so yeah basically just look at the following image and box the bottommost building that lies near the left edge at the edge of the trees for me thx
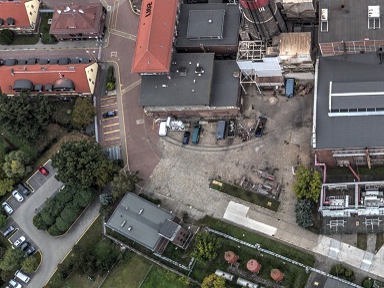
[0,58,102,99]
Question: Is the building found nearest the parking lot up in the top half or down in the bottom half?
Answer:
bottom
